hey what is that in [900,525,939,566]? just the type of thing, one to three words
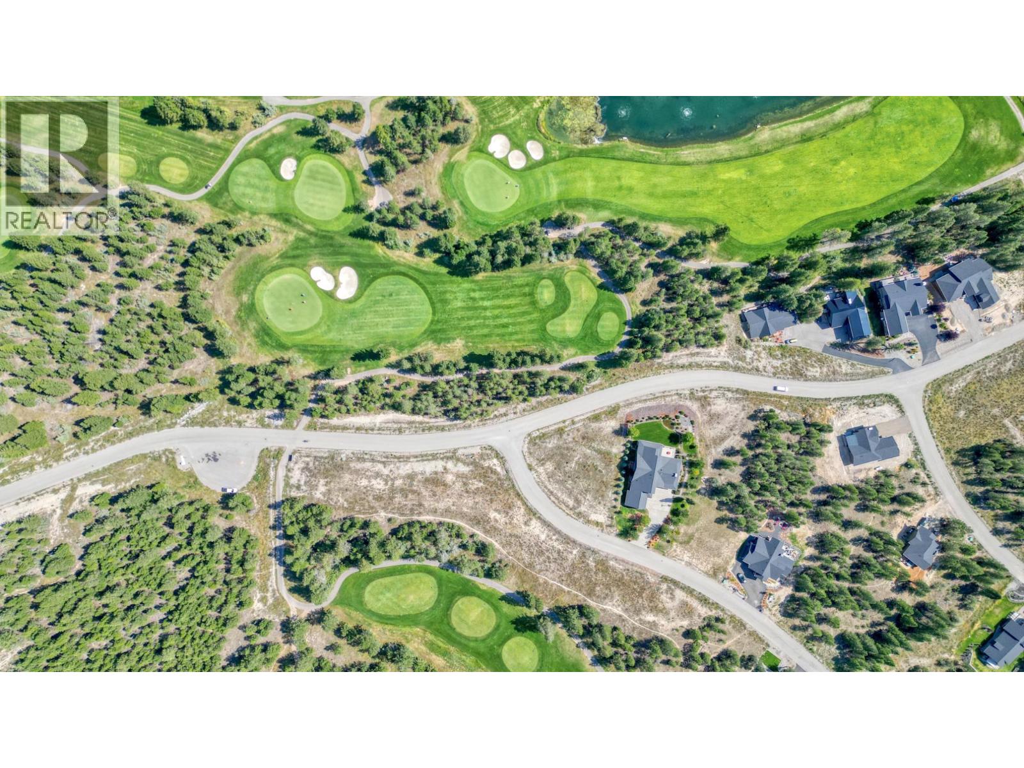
house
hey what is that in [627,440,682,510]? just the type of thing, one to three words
house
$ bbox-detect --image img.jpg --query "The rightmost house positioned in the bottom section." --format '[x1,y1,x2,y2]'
[977,613,1024,667]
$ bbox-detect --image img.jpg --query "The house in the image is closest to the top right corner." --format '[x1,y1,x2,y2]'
[930,258,999,307]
